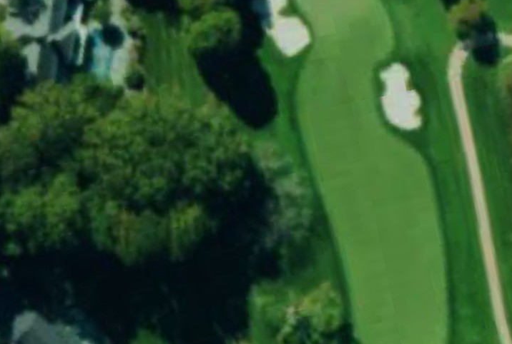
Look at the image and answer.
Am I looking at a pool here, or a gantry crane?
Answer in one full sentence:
It is a pool that can be seen here.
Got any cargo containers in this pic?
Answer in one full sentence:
No, I can see no cargo container in this picture.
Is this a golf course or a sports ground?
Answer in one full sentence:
The area seen from above is a golf course.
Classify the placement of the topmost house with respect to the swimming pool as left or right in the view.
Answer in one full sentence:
Relative to the swimming pool, the topmost house is on the left.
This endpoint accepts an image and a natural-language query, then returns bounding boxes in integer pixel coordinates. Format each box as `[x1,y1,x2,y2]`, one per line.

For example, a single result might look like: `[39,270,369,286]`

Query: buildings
[0,307,76,344]
[21,0,88,76]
